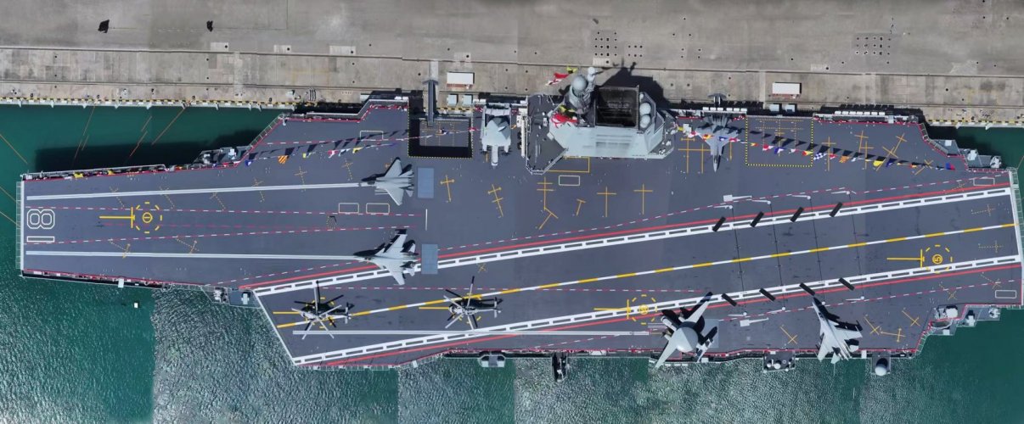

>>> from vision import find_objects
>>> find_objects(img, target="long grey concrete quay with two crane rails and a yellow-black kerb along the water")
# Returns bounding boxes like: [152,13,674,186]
[0,0,1024,135]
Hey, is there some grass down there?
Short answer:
No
